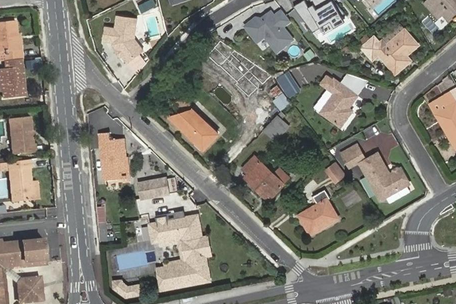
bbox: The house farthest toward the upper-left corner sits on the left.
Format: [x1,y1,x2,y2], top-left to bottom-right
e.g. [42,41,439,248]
[0,20,24,60]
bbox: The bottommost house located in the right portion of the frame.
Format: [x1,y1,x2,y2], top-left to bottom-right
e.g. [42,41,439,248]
[296,198,341,238]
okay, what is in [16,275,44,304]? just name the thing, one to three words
building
